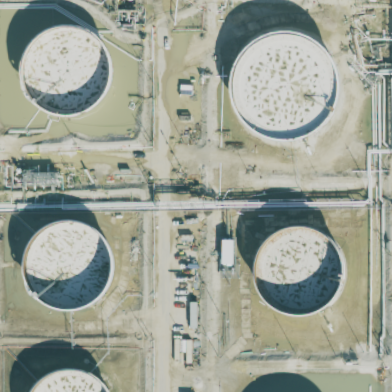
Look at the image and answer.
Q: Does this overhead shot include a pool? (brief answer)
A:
No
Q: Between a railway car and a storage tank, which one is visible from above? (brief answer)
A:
storage tank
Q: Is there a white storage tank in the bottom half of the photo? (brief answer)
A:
Yes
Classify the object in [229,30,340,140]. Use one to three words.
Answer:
storage tank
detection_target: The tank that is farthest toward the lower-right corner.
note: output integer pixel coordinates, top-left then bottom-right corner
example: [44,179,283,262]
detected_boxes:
[252,226,346,317]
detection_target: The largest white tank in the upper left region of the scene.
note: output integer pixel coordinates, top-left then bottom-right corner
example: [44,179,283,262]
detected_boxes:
[20,24,114,116]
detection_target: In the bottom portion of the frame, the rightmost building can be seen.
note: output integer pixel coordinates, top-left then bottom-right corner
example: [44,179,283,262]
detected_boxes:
[222,239,234,266]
